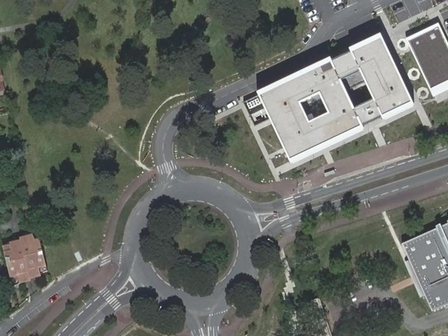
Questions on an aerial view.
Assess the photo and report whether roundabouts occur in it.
Yes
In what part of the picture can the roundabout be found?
bottom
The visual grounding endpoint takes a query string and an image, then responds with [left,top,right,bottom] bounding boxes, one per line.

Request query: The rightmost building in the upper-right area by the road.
[406,24,448,97]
